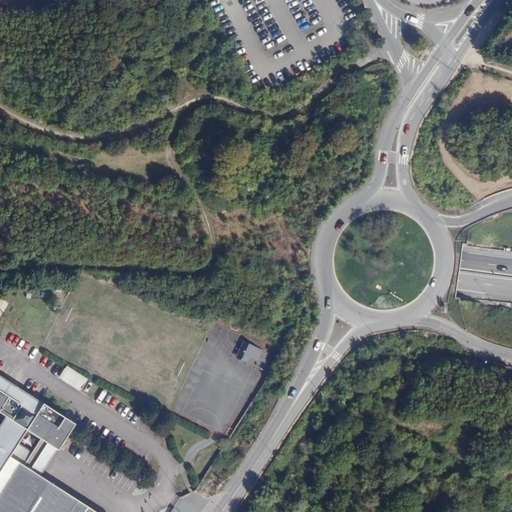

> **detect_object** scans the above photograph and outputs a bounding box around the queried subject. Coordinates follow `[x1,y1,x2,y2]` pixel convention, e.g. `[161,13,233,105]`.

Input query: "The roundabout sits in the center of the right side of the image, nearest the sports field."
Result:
[314,189,454,329]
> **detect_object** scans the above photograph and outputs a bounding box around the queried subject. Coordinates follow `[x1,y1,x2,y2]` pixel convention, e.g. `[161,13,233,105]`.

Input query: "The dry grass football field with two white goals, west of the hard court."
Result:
[45,272,206,406]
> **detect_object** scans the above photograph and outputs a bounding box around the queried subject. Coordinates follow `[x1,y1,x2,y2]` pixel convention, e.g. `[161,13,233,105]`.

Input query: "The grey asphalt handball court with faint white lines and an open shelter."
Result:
[173,322,268,431]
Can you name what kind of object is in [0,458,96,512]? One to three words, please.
building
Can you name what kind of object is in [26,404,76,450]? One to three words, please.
building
